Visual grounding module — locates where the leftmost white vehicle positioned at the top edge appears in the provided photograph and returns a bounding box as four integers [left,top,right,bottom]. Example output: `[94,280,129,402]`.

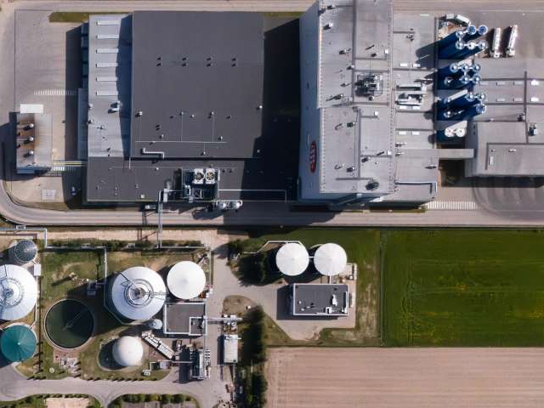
[449,12,472,24]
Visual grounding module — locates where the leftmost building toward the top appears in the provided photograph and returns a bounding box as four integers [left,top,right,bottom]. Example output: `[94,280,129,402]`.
[17,104,52,175]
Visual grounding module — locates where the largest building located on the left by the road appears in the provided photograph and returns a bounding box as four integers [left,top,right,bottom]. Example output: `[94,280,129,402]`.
[131,11,264,162]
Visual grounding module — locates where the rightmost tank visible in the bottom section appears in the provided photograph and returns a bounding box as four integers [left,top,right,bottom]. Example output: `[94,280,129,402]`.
[308,243,347,277]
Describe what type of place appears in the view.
industrial area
